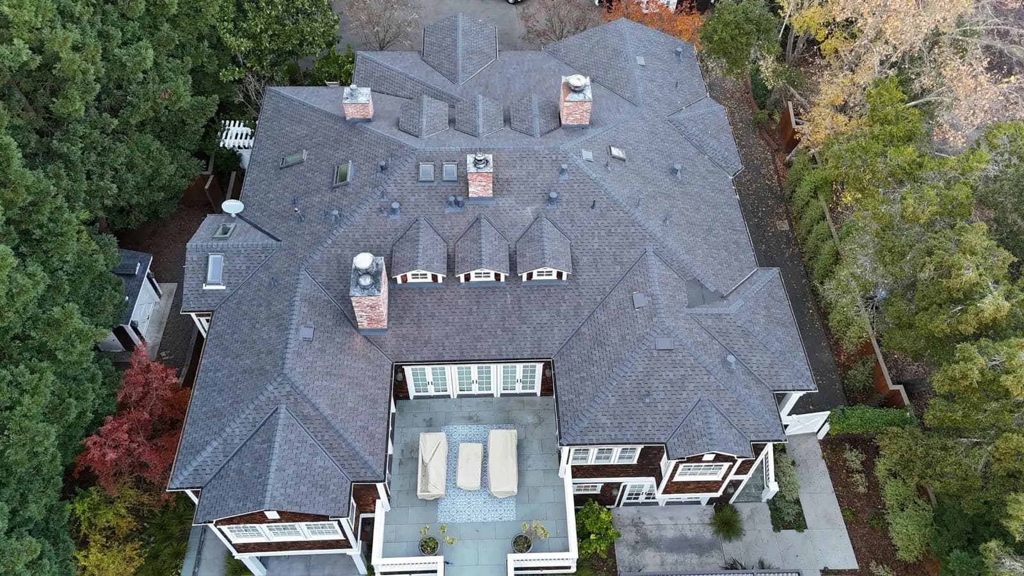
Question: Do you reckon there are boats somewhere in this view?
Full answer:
No, the photo shows no boat.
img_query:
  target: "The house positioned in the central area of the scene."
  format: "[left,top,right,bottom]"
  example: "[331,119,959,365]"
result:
[163,14,821,576]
